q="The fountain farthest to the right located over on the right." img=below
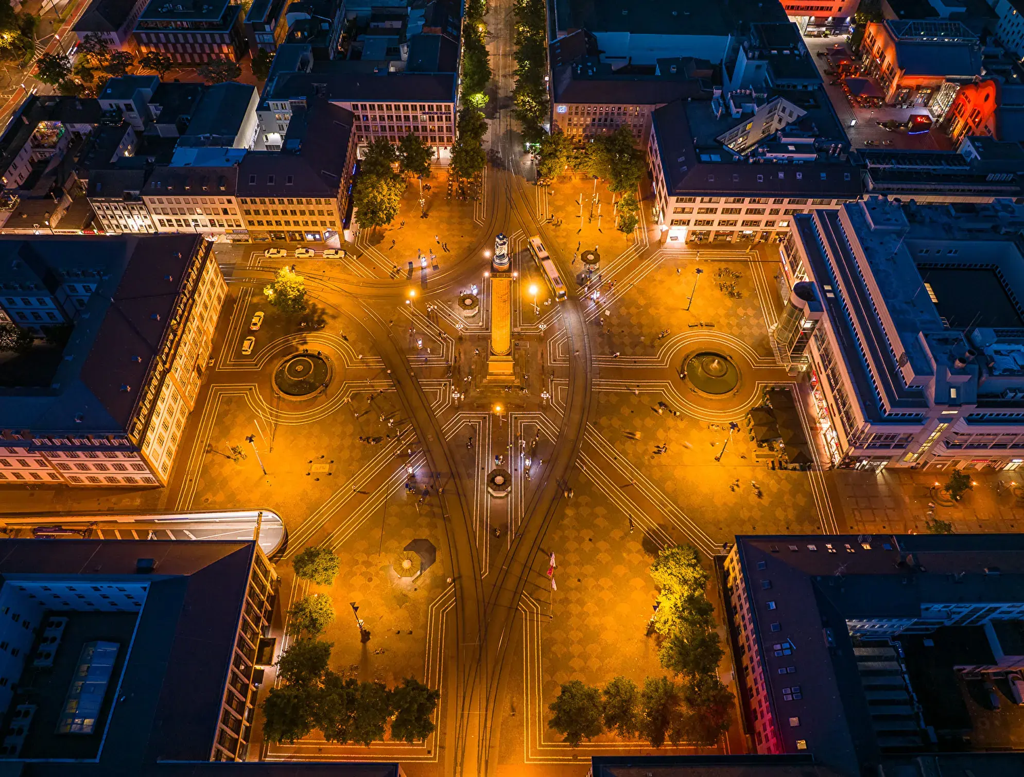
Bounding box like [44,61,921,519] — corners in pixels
[680,346,747,401]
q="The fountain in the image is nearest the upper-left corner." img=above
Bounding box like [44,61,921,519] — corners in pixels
[269,347,336,402]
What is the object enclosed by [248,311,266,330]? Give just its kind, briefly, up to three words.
car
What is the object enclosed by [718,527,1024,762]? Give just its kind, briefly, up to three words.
house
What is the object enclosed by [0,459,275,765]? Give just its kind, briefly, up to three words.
building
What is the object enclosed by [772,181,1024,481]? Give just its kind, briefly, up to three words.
building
